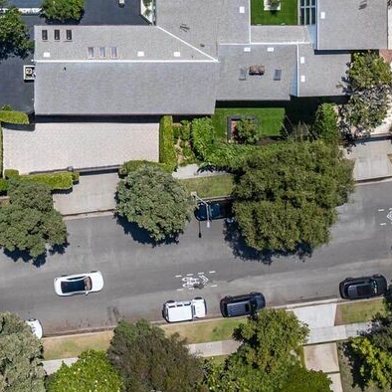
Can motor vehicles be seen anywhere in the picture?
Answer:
Yes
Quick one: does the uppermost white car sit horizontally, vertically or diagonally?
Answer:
horizontally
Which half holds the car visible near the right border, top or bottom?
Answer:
bottom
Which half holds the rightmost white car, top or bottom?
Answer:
bottom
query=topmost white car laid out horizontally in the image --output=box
[55,270,102,293]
